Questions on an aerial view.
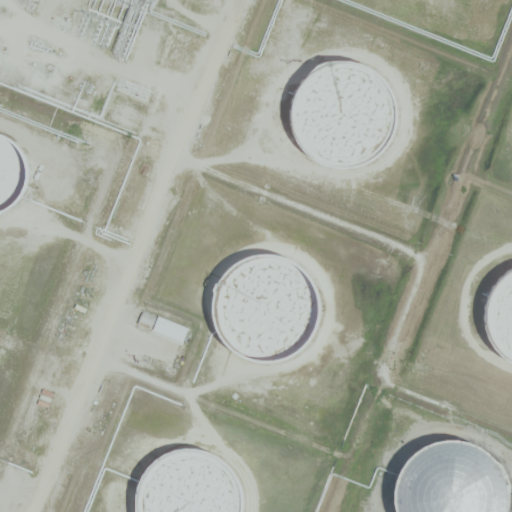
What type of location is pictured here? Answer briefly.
industrial area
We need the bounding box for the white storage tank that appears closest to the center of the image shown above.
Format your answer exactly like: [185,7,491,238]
[211,254,320,362]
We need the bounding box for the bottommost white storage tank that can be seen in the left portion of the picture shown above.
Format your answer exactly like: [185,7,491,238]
[136,447,244,512]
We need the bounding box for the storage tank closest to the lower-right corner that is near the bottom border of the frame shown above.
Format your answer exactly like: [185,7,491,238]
[394,439,510,512]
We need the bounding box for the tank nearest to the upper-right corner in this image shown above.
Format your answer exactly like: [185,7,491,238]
[292,61,398,168]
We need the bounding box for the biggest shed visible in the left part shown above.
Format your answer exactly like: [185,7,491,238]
[154,316,188,343]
